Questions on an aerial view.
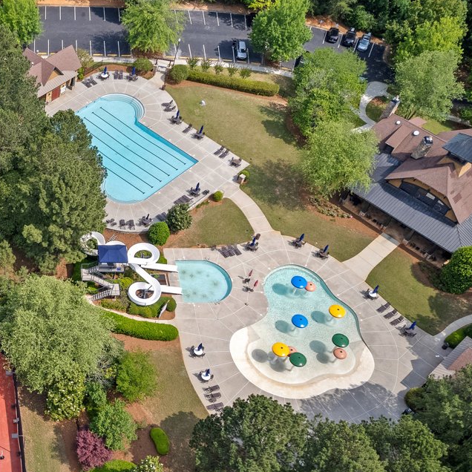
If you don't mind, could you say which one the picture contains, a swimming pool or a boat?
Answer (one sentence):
Looking from above, you can make out a swimming pool.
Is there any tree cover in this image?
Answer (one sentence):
Yes, tree cover can be seen from above here.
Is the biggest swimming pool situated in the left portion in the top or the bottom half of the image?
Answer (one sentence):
The top half of the photo is where the biggest swimming pool situated in the left portion is.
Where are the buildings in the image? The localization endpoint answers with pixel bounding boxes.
[421,322,472,415]
[327,97,472,269]
[3,45,82,106]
